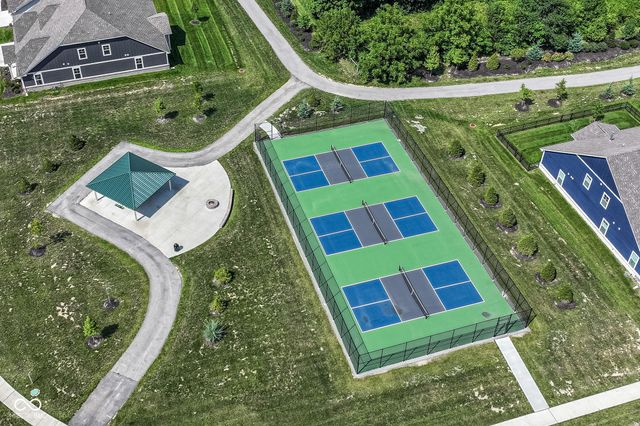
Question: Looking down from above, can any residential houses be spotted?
Yes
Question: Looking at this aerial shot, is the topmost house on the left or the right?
left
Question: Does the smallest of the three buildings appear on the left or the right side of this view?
left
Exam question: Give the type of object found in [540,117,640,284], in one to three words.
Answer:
house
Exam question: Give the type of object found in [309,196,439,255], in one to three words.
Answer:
sports court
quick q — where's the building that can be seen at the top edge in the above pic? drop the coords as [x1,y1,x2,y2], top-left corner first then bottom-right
[2,0,175,90]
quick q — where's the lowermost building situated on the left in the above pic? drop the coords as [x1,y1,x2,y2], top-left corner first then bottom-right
[86,152,176,221]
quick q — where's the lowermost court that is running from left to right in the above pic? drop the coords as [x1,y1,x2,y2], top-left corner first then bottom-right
[342,259,484,332]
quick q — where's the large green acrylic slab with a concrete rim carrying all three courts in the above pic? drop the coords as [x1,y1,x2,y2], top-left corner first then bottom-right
[252,117,533,377]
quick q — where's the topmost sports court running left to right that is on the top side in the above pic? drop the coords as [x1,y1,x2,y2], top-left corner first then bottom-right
[282,142,401,191]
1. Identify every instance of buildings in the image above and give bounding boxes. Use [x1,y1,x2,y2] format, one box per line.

[540,117,640,284]
[2,0,175,90]
[86,152,176,221]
